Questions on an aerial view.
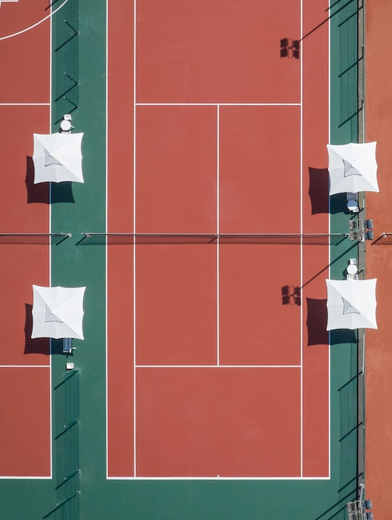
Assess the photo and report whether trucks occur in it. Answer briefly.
No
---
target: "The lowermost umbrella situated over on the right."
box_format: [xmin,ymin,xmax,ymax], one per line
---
[326,279,377,331]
